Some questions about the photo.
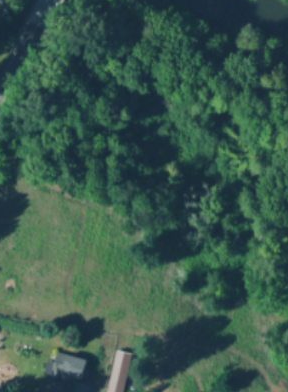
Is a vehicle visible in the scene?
No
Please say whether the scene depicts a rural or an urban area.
rural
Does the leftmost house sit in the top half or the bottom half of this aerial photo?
bottom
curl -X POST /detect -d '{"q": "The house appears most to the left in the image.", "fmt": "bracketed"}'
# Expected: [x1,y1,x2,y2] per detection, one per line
[49,353,88,378]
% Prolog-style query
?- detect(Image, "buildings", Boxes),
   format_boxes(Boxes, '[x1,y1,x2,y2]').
[49,353,88,378]
[108,350,132,392]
